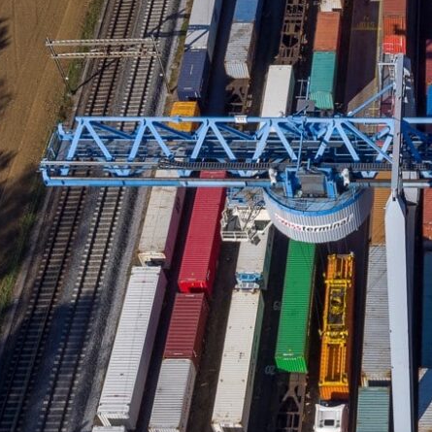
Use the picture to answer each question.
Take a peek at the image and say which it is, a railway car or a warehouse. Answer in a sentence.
Looking from above, you can make out a railway car.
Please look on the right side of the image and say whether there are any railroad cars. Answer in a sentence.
Yes, a railroad car appears on the right side of the image.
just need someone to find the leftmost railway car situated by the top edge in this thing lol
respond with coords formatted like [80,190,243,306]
[196,0,229,116]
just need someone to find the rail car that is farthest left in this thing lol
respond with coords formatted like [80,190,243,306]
[104,279,169,432]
